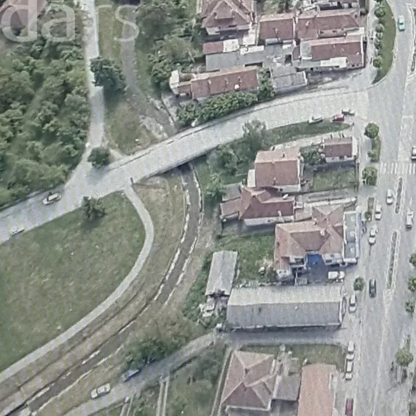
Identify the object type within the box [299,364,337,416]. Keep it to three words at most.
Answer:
house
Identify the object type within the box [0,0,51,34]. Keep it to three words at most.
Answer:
house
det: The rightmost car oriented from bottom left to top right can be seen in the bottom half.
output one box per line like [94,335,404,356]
[119,369,136,382]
